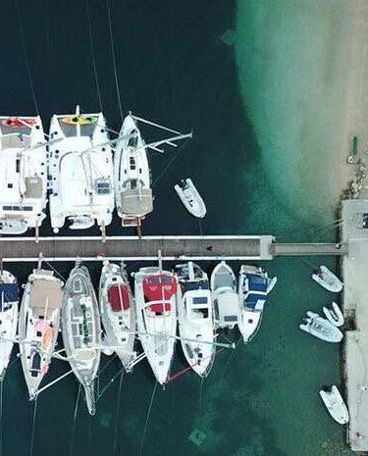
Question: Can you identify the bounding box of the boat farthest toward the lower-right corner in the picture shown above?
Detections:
[316,385,344,424]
